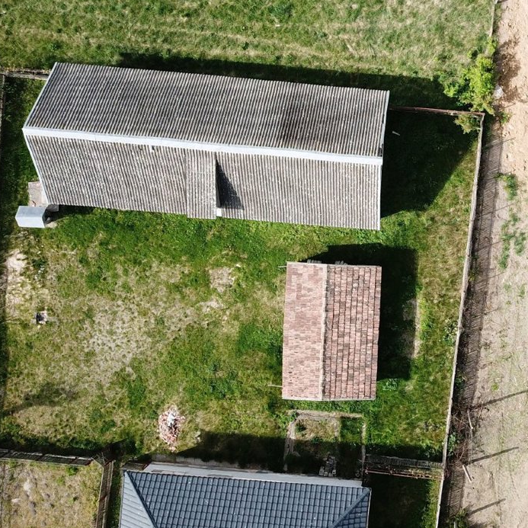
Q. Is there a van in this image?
No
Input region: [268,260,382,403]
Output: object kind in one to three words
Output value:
shed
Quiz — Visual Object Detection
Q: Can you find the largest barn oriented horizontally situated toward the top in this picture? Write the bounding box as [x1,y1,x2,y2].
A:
[19,61,391,232]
